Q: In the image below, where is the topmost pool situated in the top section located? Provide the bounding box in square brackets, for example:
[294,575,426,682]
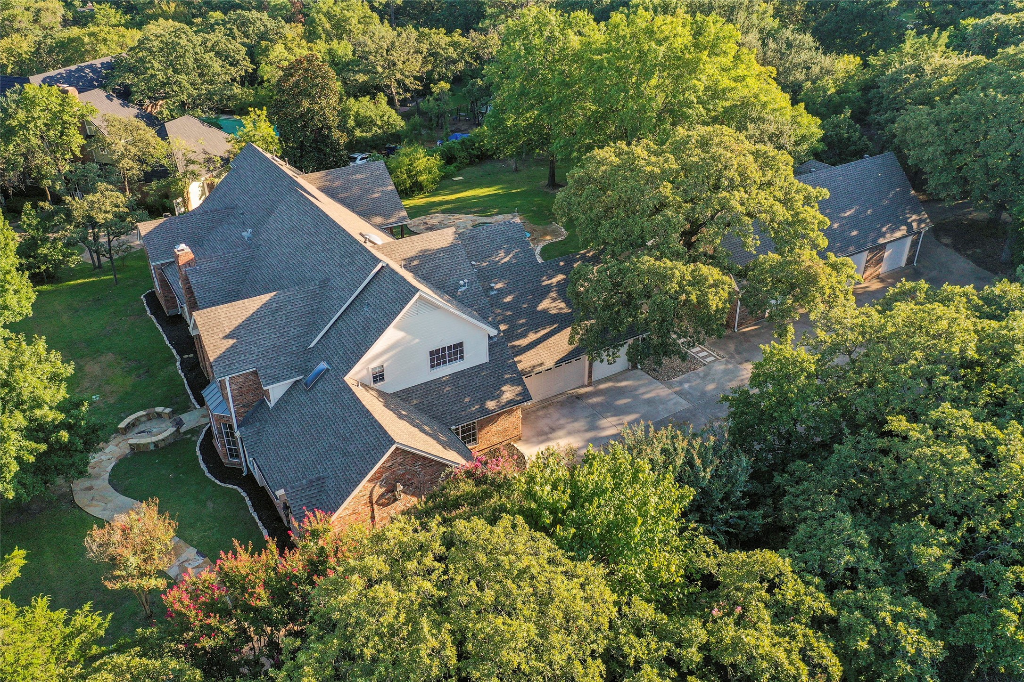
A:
[202,109,313,143]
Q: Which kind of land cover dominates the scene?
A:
trees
